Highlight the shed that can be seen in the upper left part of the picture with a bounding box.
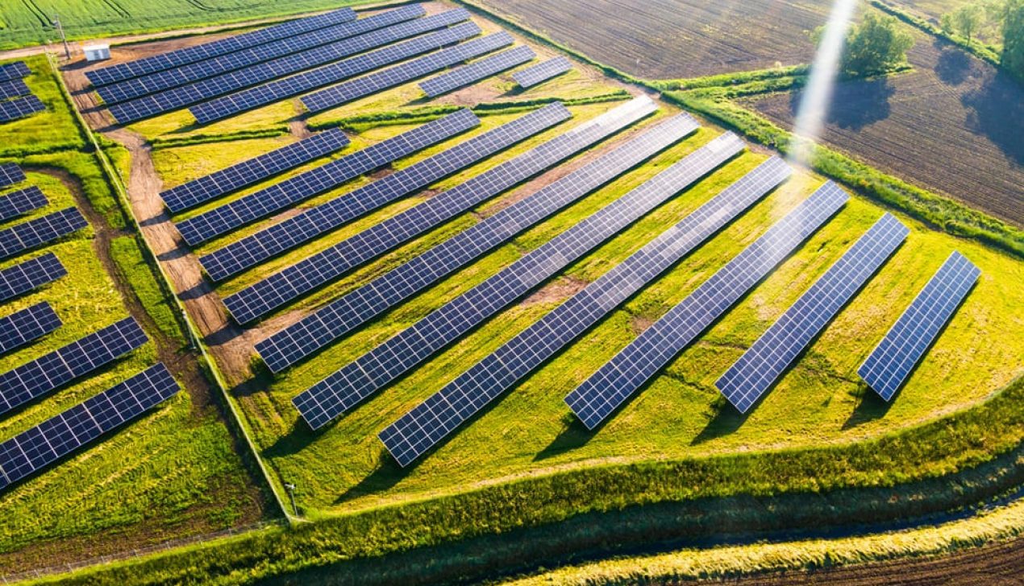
[82,42,111,61]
